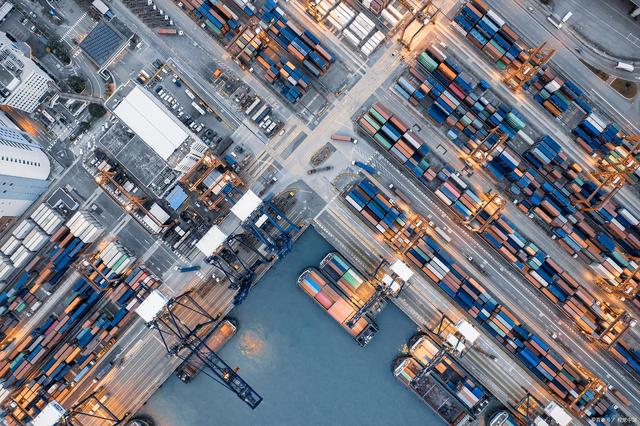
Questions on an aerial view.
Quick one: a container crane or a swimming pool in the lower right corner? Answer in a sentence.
Visible in the lower right corner is a container crane.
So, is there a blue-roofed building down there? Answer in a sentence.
Yes, the picture does show a blue-roofed building.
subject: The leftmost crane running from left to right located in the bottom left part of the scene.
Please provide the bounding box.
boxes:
[32,373,139,426]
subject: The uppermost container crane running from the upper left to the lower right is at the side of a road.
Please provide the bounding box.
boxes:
[93,167,145,206]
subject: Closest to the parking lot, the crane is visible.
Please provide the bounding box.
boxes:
[181,155,229,198]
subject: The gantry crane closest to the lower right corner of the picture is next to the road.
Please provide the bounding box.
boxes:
[551,367,611,419]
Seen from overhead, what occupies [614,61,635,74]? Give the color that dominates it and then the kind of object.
white vehicle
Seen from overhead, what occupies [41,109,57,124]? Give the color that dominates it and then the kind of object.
white vehicle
